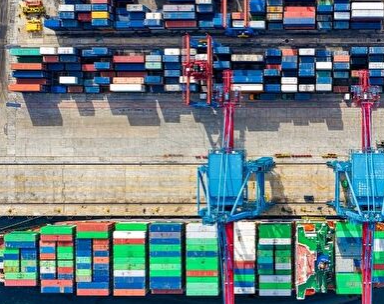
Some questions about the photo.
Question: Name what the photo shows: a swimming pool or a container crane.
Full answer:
It is a container crane that can be seen here.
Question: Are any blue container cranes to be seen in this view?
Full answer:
Yes, the picture does show a blue container crane.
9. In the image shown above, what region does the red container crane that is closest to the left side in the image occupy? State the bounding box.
[183,34,228,108]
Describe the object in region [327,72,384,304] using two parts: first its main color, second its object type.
blue container crane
